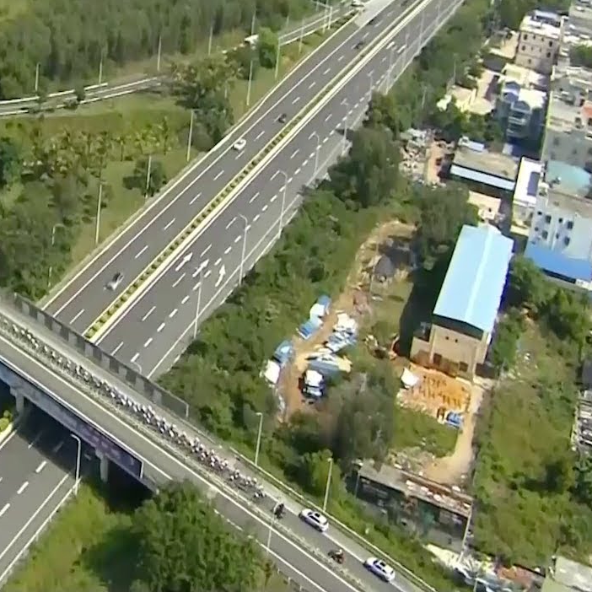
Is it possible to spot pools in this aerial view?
No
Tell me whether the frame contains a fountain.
No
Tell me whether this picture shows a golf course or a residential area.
residential area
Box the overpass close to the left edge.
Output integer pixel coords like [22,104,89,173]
[0,290,236,486]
